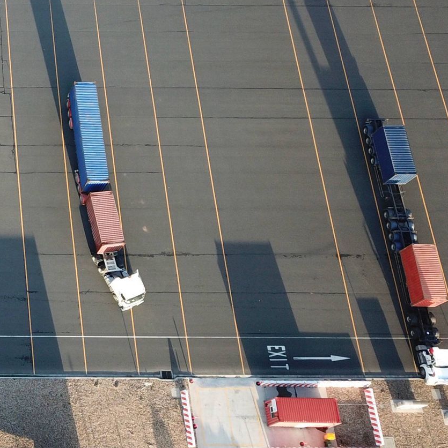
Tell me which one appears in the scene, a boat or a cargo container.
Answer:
cargo container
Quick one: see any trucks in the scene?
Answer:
Yes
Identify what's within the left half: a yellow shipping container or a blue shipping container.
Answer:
blue shipping container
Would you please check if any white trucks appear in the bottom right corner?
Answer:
Yes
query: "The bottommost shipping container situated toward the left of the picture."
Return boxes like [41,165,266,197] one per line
[86,190,125,254]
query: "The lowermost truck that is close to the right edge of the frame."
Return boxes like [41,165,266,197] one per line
[407,312,448,386]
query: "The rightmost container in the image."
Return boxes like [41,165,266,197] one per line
[400,244,448,307]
